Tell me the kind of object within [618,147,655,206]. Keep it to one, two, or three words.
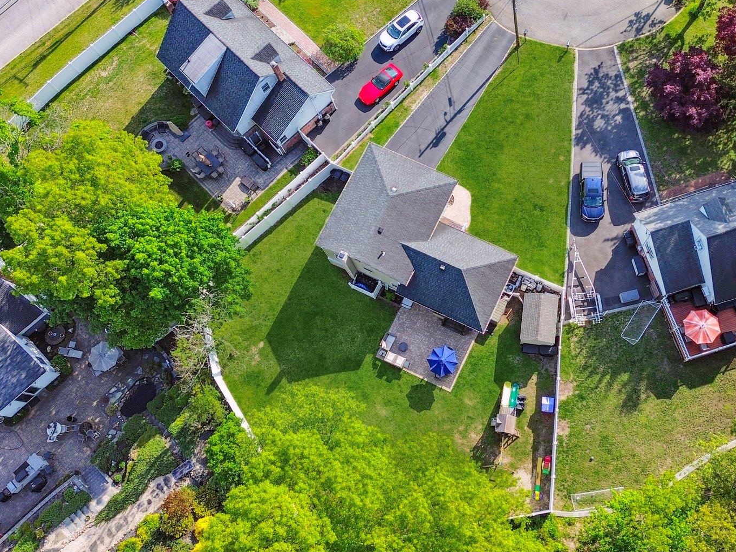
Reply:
car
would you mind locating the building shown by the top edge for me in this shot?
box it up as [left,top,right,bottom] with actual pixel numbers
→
[155,0,341,154]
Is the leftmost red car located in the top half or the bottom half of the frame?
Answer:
top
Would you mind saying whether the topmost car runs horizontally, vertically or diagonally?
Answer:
diagonally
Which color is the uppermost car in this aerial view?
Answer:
white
